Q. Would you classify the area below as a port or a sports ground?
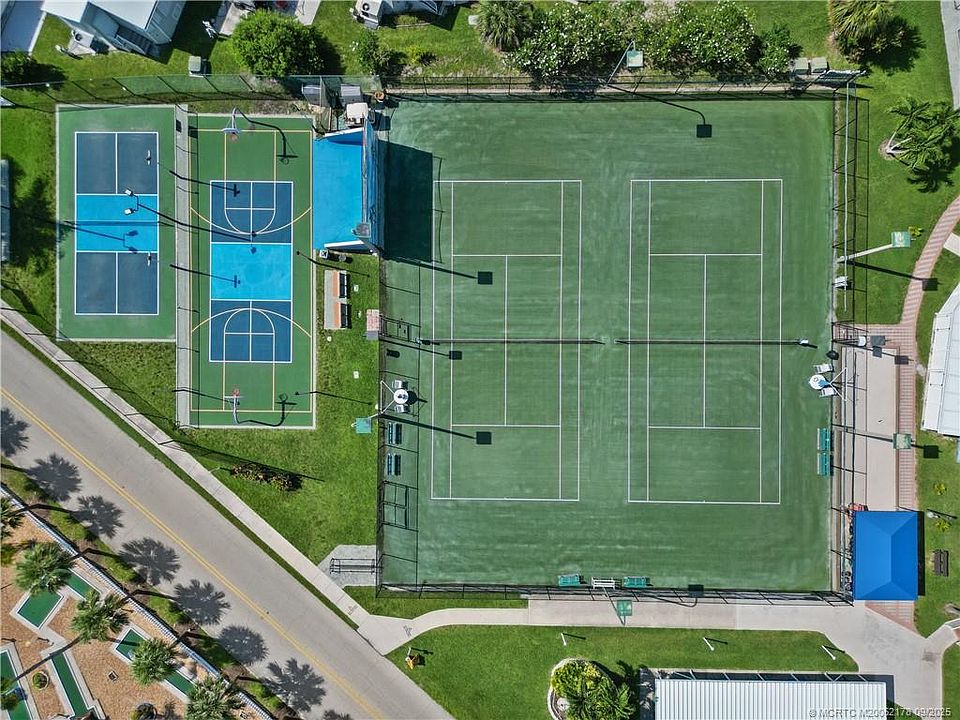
sports ground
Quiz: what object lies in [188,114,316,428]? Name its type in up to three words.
basketball court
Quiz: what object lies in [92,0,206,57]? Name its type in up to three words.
house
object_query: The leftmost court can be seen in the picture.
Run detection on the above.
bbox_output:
[56,104,176,342]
